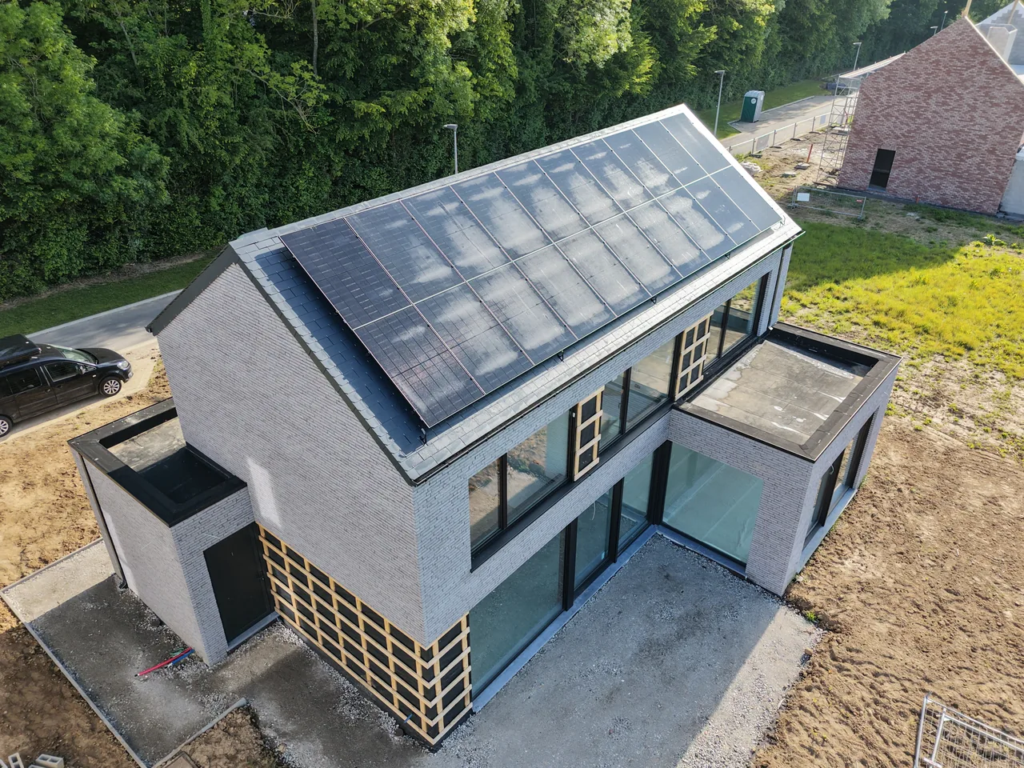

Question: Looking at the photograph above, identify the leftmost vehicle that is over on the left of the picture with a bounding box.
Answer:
[0,339,134,438]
